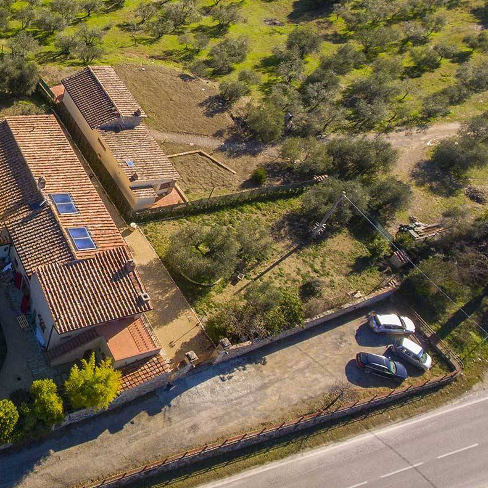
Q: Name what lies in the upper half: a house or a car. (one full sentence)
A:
What appears in the upper half is a house.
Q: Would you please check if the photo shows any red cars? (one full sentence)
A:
No, this view has no red car in it.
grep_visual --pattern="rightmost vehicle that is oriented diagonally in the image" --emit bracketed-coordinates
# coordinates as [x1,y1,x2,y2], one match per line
[386,335,436,372]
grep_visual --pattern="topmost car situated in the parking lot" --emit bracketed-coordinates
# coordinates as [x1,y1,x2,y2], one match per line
[365,315,416,339]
